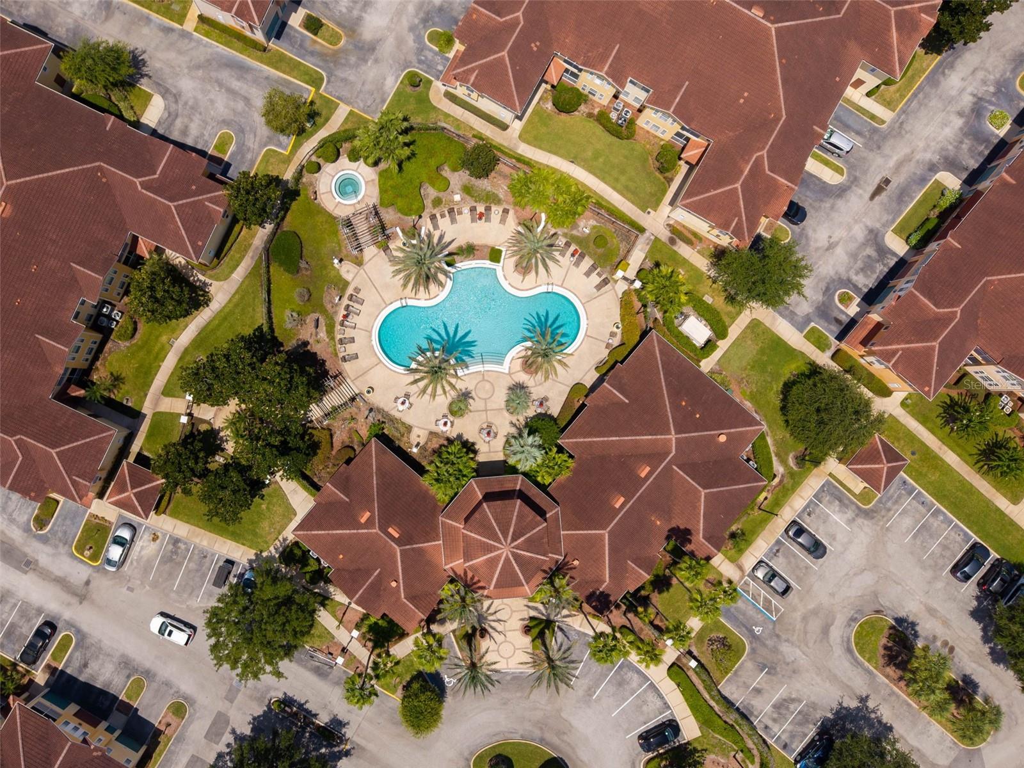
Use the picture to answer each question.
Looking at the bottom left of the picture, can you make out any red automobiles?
No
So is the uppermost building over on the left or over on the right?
left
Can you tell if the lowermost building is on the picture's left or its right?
left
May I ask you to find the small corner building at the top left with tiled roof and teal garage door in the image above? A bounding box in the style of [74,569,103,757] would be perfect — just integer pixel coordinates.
[200,0,292,42]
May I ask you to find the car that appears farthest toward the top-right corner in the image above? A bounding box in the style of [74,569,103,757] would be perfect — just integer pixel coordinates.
[816,127,858,159]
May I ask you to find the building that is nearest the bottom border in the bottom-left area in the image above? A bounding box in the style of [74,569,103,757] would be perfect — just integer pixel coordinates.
[0,687,183,768]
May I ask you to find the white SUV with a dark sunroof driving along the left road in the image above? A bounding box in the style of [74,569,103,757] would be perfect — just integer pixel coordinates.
[146,610,201,647]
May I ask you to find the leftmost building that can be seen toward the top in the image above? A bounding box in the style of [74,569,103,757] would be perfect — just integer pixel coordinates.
[0,17,235,509]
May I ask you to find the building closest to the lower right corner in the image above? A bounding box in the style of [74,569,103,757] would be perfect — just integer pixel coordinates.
[833,433,910,496]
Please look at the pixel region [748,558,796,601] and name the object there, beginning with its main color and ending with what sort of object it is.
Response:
gray car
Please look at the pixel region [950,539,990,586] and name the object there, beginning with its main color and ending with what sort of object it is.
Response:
black car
